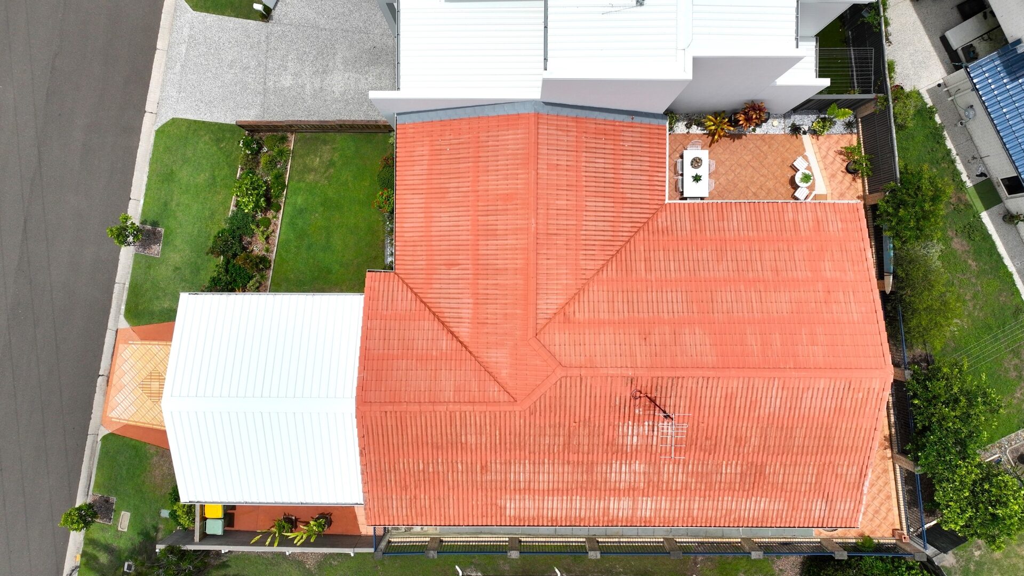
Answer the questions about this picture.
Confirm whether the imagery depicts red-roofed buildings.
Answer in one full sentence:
Yes, the picture does show a red-roofed building.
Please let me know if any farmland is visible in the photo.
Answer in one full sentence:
No, the picture contains no farmland.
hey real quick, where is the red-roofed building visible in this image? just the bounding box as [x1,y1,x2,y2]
[352,100,895,530]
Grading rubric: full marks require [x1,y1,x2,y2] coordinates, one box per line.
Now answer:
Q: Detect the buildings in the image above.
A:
[942,0,1024,236]
[352,100,895,530]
